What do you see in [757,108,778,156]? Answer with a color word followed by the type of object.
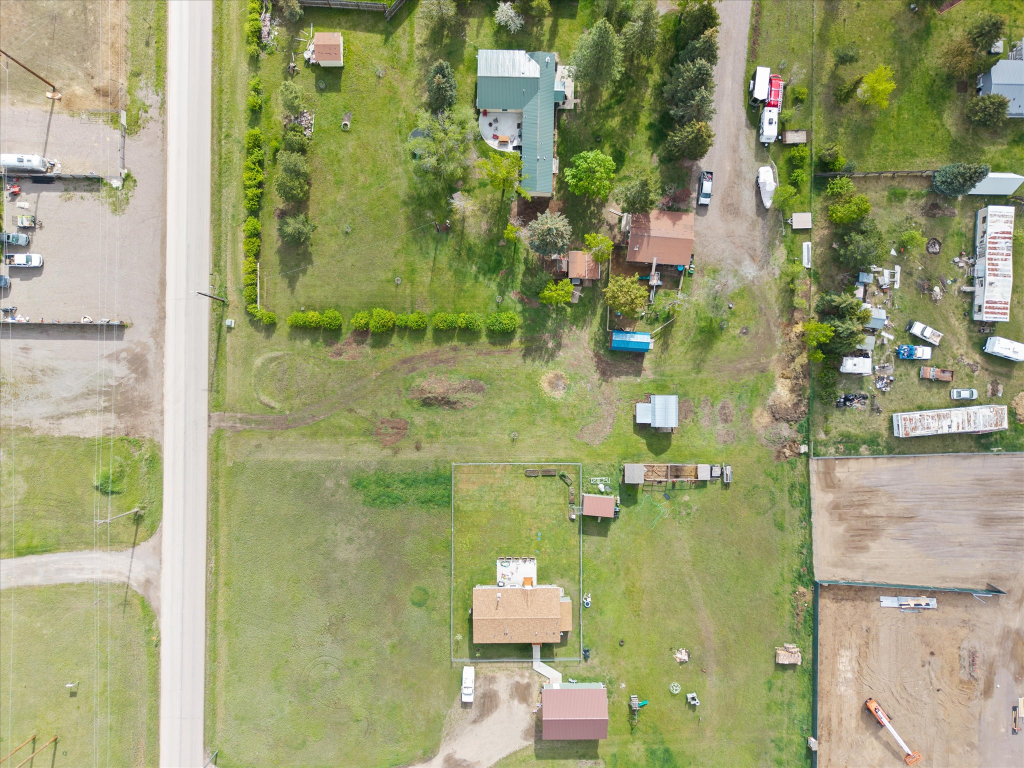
white trailer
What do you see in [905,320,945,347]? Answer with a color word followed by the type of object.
white truck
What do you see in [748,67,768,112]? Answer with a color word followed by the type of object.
white trailer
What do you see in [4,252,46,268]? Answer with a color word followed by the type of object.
white vehicle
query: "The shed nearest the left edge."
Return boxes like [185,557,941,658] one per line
[312,33,345,67]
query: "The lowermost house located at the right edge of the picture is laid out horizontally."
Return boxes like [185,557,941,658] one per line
[887,405,1008,438]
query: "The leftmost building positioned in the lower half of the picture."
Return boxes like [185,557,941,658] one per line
[471,573,572,644]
